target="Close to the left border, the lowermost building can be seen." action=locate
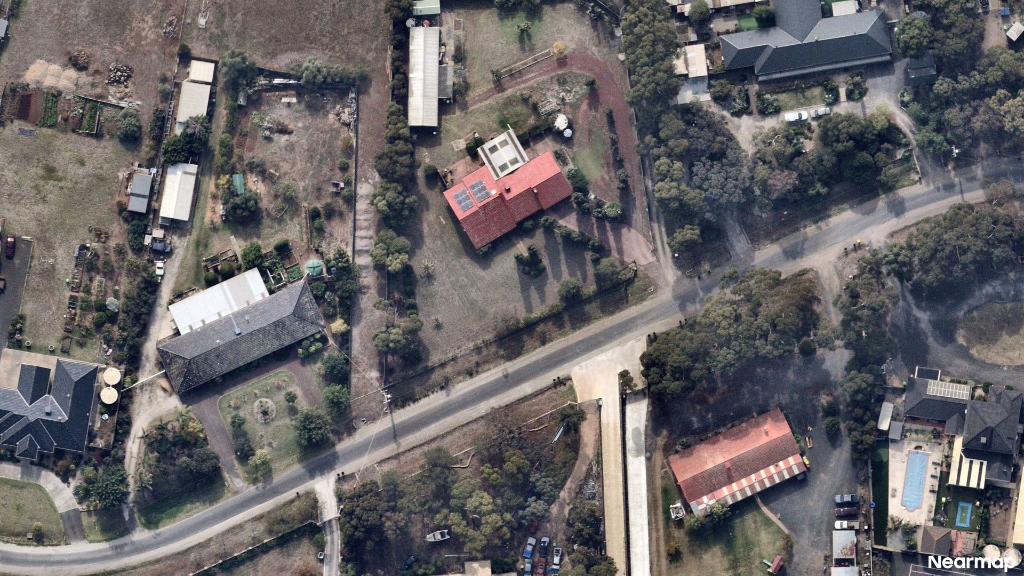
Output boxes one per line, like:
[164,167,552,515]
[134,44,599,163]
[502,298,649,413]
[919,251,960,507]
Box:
[0,359,100,462]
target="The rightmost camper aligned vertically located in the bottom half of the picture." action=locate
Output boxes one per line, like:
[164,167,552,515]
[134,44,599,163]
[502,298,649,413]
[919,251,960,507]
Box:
[877,398,894,430]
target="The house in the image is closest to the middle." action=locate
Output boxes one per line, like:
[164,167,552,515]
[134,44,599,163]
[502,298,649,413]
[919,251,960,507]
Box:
[443,148,574,249]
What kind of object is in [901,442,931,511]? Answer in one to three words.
swimming pool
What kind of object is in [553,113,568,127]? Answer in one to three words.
umbrella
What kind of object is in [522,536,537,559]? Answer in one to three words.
car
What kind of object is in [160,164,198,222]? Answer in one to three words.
shed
